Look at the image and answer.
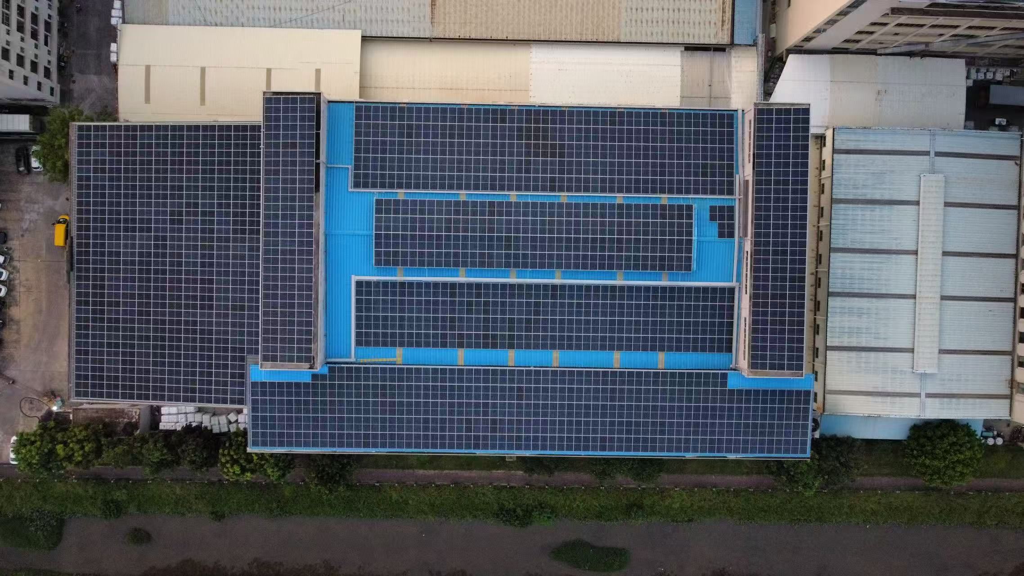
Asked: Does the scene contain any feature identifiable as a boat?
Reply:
No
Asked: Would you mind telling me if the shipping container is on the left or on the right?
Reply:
right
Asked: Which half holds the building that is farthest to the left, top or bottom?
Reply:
top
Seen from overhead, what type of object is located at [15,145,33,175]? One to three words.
car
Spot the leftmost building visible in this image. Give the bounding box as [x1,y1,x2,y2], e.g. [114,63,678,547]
[0,0,59,103]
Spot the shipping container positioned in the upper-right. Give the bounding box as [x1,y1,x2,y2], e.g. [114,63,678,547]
[981,85,1024,110]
